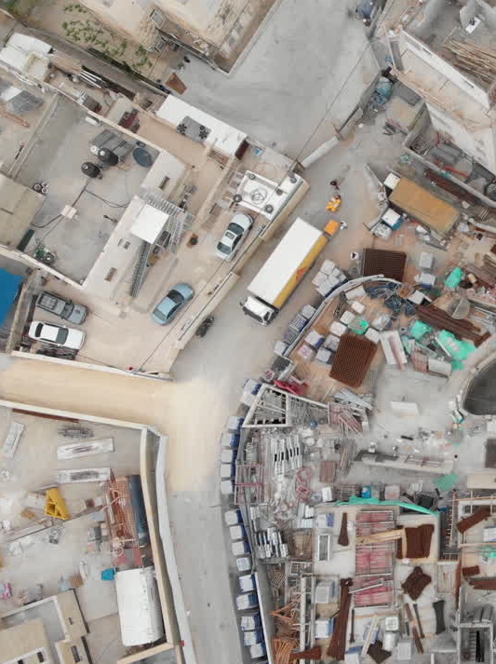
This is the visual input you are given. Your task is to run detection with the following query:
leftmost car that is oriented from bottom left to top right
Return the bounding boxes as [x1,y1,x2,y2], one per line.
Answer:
[150,283,197,326]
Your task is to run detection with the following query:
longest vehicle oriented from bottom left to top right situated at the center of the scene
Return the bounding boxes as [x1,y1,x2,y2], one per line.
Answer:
[243,218,335,322]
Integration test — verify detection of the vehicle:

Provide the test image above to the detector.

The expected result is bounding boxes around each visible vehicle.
[150,283,197,326]
[27,320,88,351]
[243,218,335,322]
[199,317,213,335]
[383,168,463,236]
[217,212,253,260]
[30,291,91,325]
